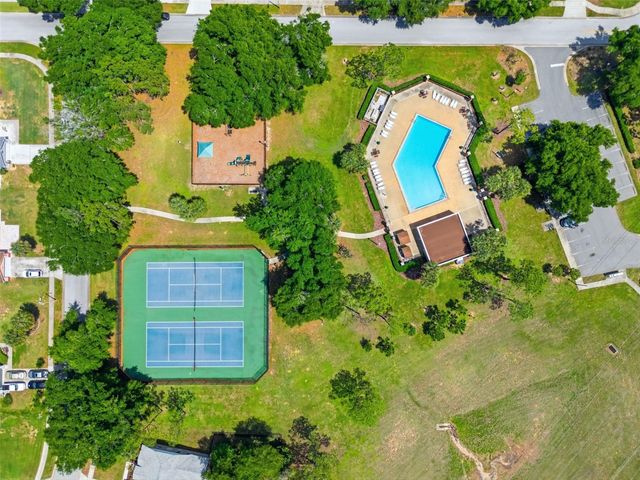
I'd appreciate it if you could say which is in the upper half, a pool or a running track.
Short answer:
pool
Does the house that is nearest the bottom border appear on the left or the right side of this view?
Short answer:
left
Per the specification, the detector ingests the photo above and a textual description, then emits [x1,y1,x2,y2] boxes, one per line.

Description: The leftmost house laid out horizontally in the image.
[132,444,208,480]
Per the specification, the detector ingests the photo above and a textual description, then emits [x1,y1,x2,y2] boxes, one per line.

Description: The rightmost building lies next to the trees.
[417,212,471,266]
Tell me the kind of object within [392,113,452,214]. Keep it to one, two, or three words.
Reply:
swimming pool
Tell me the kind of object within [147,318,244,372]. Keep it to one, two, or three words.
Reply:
tennis court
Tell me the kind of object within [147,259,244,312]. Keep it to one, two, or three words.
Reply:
tennis court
